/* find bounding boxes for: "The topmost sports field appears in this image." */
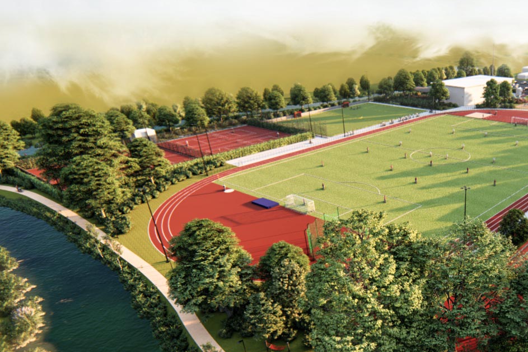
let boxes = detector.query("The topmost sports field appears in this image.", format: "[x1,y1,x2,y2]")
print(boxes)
[279,102,428,138]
